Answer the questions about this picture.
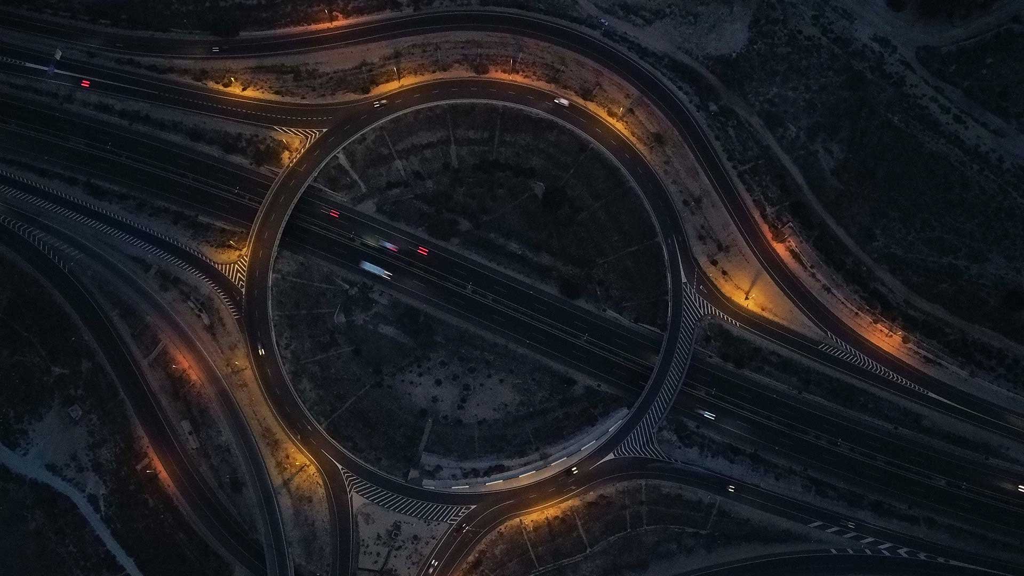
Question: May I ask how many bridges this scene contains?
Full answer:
The number of bridges here is 2.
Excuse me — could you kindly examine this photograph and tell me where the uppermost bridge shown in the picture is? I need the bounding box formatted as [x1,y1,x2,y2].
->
[245,143,328,265]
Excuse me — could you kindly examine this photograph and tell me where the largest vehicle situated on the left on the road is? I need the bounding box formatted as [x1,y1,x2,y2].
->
[360,260,391,278]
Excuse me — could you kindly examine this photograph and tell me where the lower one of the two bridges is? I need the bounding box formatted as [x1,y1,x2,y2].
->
[618,321,700,460]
